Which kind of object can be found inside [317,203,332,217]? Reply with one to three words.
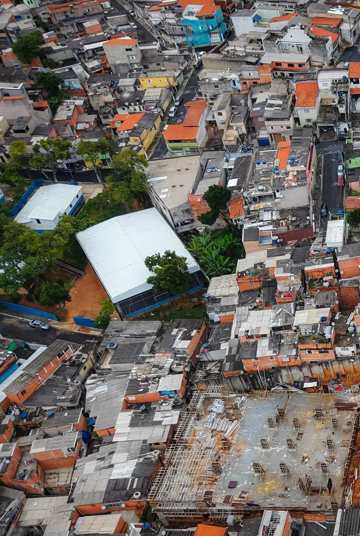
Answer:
car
